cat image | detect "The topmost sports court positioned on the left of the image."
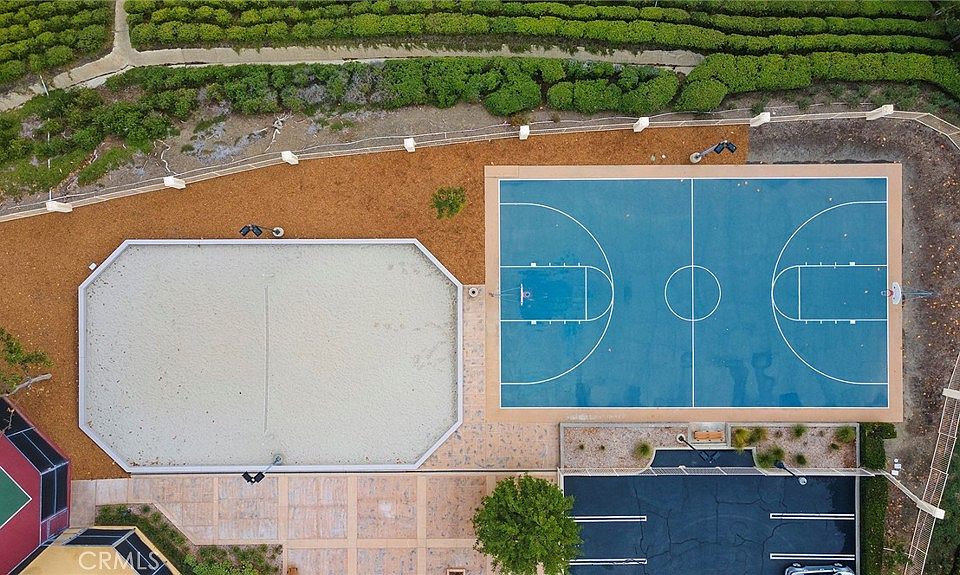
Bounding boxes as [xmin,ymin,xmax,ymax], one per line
[79,239,463,473]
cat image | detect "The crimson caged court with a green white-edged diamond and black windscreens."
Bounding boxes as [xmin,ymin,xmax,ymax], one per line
[0,397,71,575]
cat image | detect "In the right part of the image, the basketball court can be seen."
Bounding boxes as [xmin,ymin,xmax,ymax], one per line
[485,163,904,423]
